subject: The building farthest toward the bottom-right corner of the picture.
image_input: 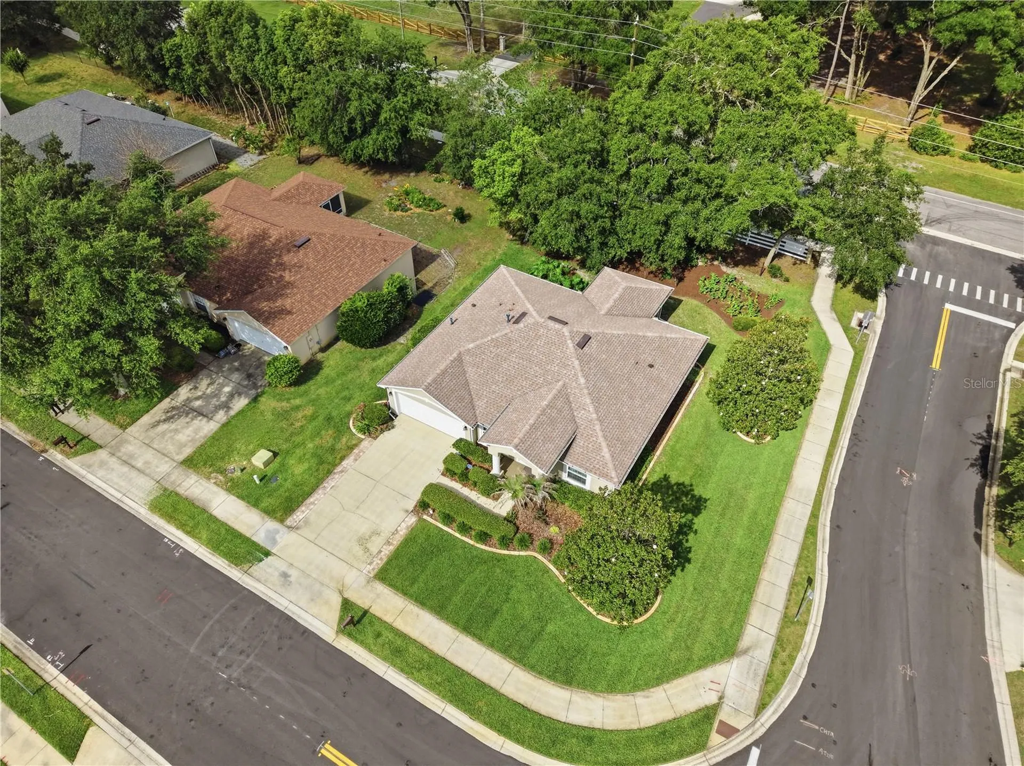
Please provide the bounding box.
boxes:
[376,265,710,503]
